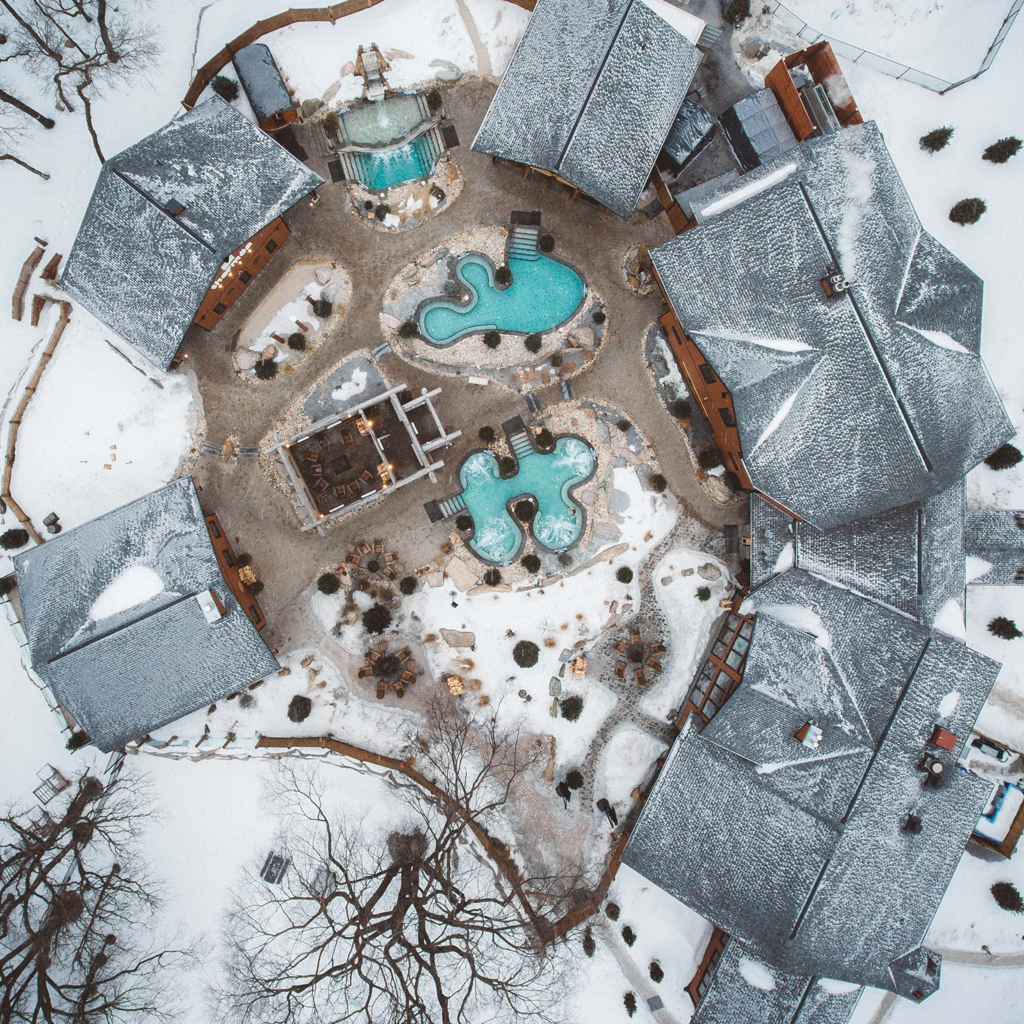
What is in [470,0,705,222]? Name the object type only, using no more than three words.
barn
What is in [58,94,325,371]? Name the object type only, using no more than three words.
building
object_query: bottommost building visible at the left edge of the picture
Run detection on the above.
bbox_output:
[13,474,282,753]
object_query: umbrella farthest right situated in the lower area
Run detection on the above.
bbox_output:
[597,800,618,828]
